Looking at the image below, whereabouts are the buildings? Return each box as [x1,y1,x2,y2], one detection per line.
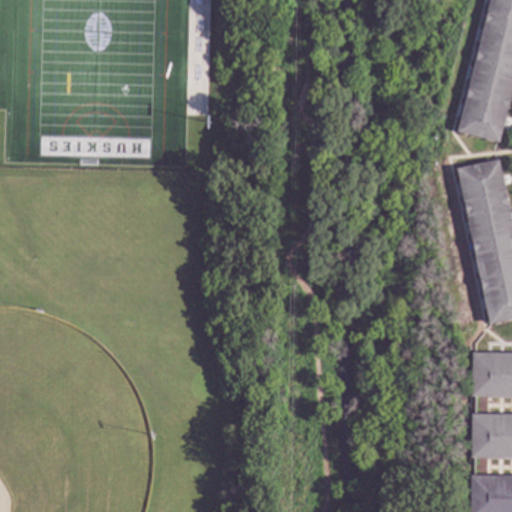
[472,352,512,397]
[458,159,512,326]
[458,0,512,142]
[472,414,512,458]
[472,474,512,512]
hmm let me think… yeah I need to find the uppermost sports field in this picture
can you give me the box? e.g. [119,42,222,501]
[0,0,189,166]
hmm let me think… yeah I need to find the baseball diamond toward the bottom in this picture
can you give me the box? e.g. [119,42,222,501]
[0,304,154,512]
